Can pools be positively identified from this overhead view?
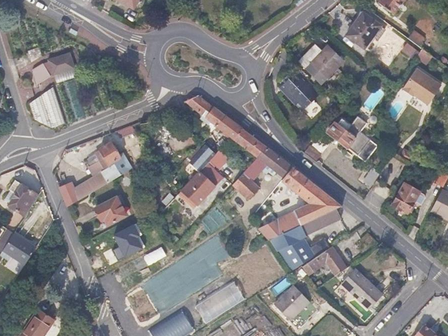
Yes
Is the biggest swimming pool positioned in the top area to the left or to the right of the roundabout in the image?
to the right of it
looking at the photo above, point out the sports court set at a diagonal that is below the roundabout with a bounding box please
[142,234,228,312]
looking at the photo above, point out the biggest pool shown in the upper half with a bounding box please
[362,88,385,110]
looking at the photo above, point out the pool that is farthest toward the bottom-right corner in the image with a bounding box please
[270,276,292,296]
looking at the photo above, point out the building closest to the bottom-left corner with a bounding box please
[21,312,54,336]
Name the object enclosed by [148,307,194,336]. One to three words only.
building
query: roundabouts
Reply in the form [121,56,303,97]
[138,22,262,110]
